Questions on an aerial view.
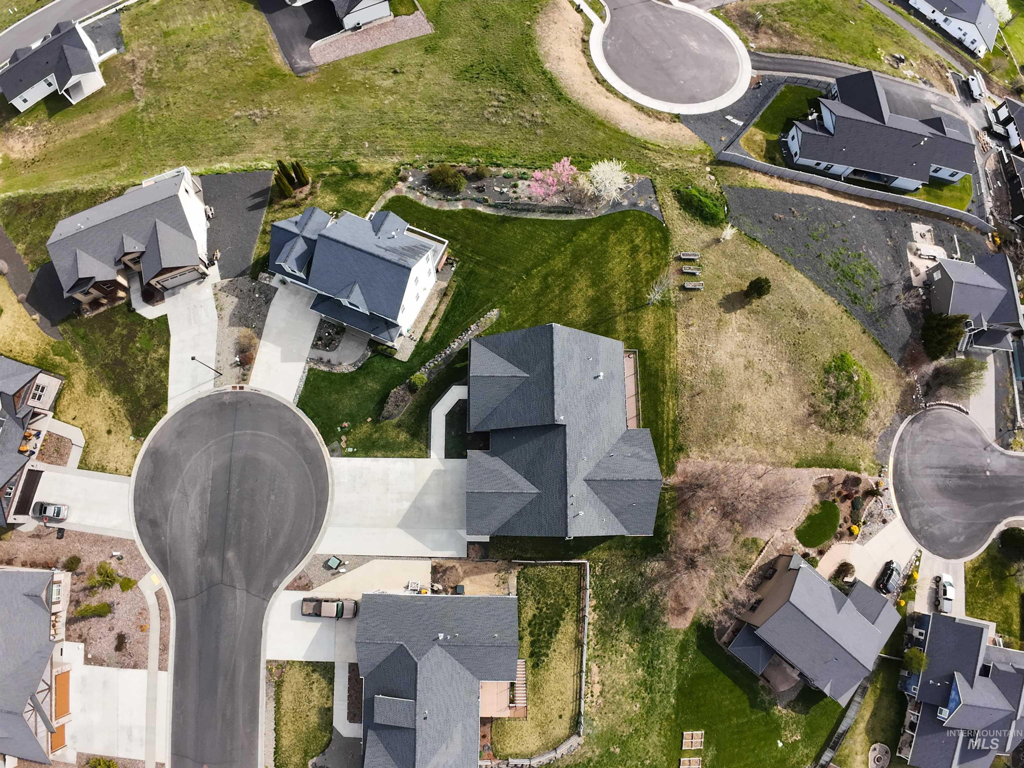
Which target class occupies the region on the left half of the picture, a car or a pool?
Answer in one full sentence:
There is a car on the left half of the picture.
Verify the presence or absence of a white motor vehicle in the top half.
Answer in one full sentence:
Yes, the scene does show a white motor vehicle in the top half.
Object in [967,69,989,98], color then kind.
white vehicle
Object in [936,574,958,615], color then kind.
white truck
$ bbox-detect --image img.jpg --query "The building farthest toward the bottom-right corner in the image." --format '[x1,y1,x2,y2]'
[894,612,1024,768]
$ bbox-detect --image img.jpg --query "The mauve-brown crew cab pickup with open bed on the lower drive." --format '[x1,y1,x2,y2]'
[298,599,357,622]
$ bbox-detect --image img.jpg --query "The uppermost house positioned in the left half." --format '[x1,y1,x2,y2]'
[336,0,394,30]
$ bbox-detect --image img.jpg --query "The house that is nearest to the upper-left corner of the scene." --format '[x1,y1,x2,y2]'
[0,15,107,111]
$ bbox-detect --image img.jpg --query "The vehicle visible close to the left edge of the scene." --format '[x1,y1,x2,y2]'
[26,504,67,522]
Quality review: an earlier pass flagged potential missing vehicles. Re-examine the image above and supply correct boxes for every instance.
[967,69,989,98]
[298,599,357,622]
[877,558,902,596]
[936,574,958,615]
[26,504,67,522]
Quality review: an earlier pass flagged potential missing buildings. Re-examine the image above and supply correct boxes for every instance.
[355,592,527,768]
[922,254,1021,352]
[467,326,660,542]
[268,202,448,349]
[990,93,1024,146]
[792,66,983,190]
[0,570,78,767]
[0,15,107,111]
[336,0,394,30]
[994,154,1024,212]
[0,353,65,529]
[46,164,206,303]
[894,612,1024,768]
[722,563,905,709]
